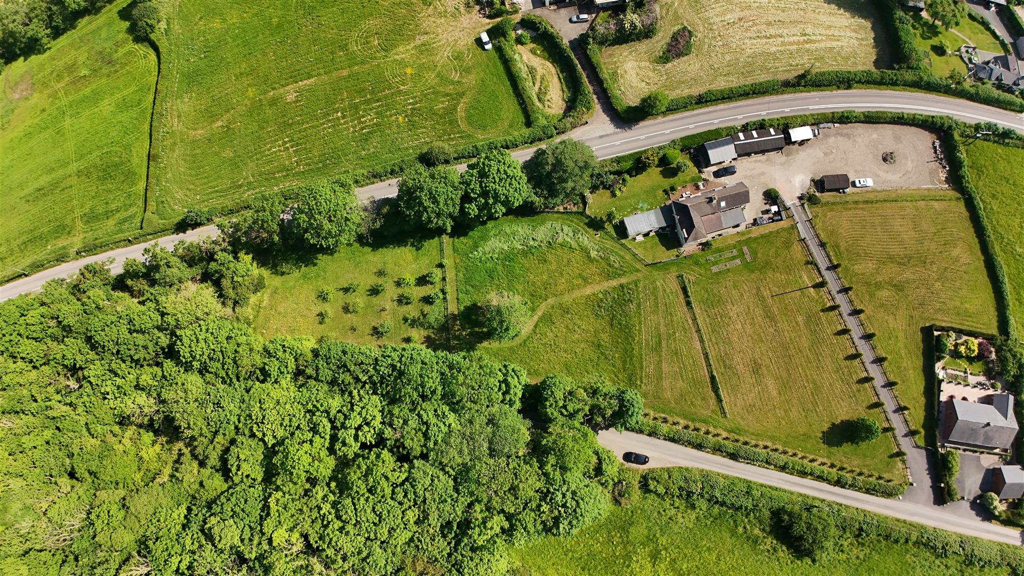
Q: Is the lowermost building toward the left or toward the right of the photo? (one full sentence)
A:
The lowermost building is on the right side of the image.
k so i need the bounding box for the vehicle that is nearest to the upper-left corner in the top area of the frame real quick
[478,29,493,51]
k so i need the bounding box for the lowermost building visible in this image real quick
[993,465,1024,499]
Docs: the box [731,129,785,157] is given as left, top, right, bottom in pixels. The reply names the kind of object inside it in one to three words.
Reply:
shed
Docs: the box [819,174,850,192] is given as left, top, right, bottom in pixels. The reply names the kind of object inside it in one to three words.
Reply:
shed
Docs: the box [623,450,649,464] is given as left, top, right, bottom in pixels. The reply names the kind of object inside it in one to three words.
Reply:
car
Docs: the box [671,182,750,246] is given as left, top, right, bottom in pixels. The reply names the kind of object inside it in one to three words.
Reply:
house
